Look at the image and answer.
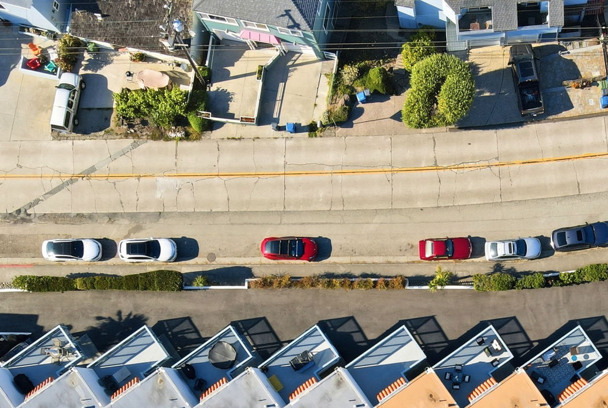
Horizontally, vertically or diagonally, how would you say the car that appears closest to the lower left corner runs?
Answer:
horizontally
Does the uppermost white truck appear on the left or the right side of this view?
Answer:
left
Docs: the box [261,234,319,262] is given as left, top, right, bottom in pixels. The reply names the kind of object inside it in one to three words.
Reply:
car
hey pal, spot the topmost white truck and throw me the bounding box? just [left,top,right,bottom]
[49,70,84,136]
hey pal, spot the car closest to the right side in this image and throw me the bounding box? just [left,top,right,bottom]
[551,221,608,253]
